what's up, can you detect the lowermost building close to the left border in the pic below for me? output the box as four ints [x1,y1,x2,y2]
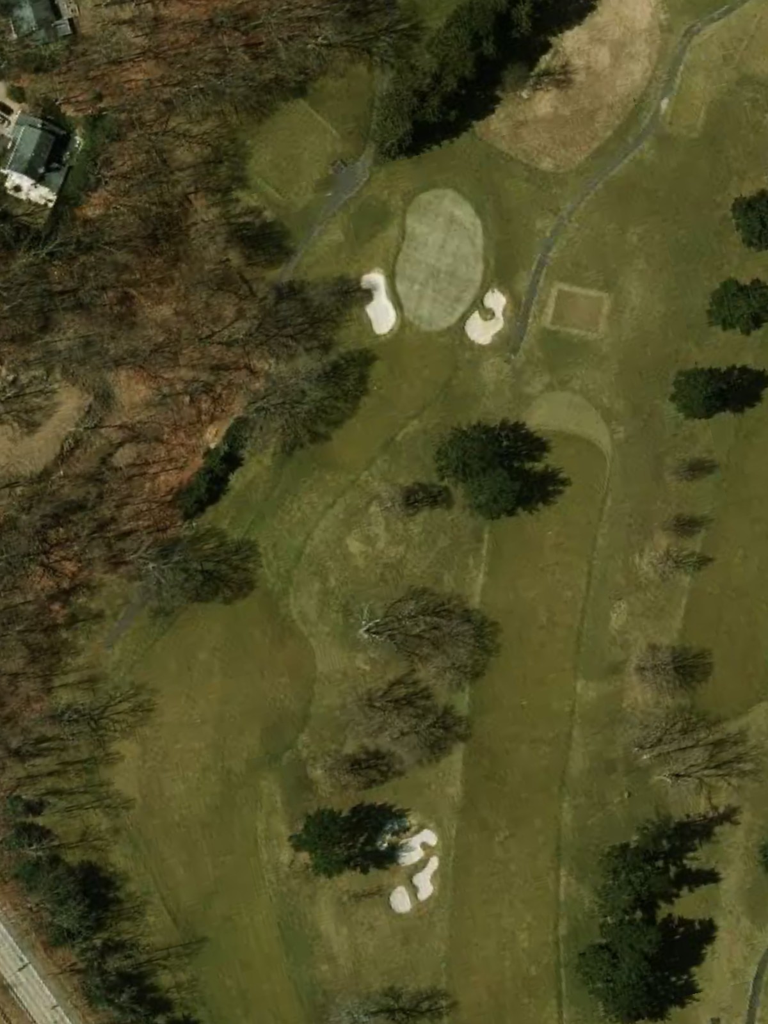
[8,110,68,193]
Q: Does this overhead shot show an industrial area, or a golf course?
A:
golf course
